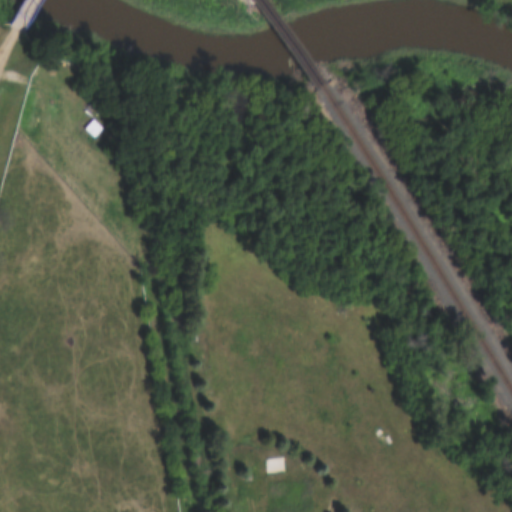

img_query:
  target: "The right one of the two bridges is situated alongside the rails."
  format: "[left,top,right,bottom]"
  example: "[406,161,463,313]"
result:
[256,0,336,98]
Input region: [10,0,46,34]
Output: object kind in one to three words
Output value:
bridge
